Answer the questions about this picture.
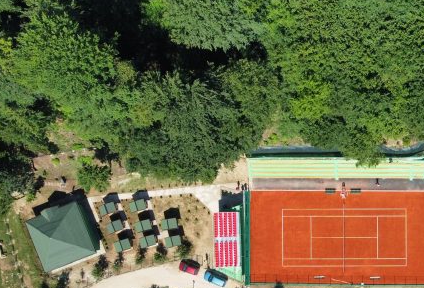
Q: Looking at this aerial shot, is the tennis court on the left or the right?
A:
right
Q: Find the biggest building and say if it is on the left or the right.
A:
left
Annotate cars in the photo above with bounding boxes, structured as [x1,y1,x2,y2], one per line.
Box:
[179,261,201,275]
[204,271,229,286]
